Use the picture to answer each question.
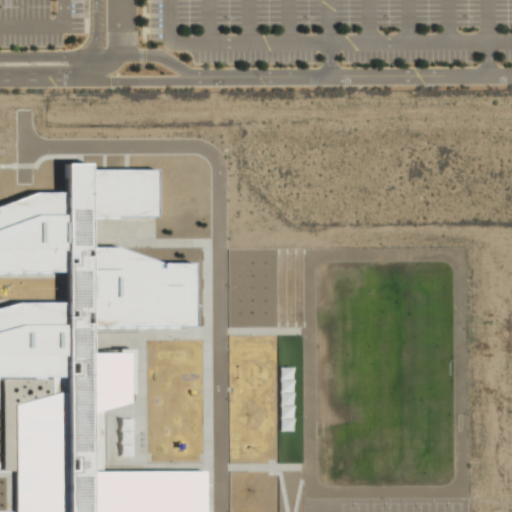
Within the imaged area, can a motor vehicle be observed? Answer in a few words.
No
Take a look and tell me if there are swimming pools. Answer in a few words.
No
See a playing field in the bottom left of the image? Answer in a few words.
No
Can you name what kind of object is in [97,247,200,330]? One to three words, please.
building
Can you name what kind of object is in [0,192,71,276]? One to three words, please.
building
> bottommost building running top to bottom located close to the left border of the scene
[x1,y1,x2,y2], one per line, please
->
[16,392,69,512]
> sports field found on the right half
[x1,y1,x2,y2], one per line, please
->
[317,262,453,486]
